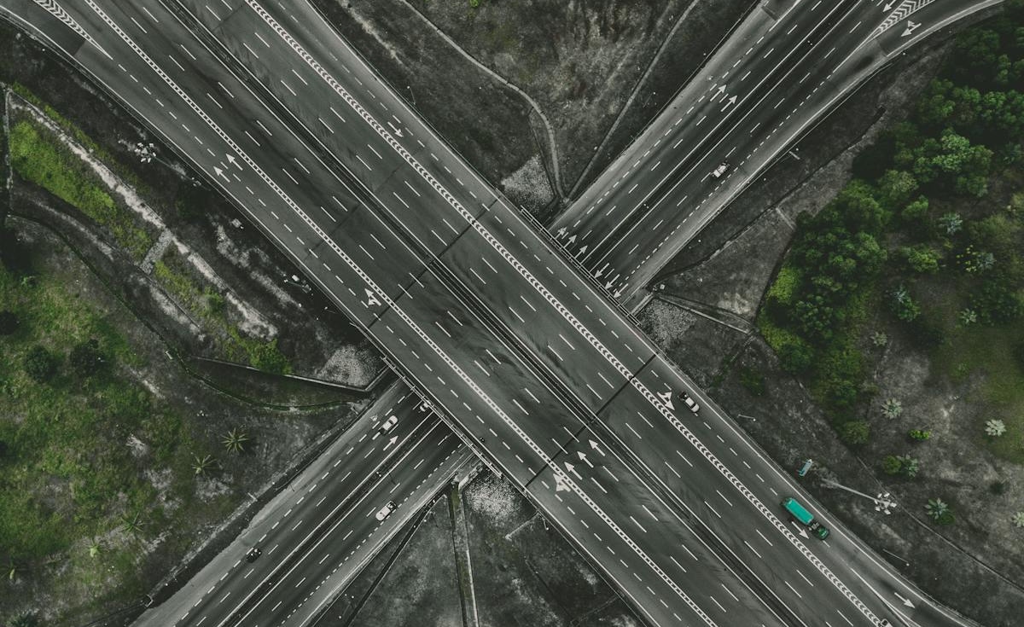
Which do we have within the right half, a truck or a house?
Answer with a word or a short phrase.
truck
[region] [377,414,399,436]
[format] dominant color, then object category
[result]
white truck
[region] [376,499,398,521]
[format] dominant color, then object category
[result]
white truck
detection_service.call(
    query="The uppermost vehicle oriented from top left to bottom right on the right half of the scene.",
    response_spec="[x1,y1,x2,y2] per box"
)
[678,391,701,413]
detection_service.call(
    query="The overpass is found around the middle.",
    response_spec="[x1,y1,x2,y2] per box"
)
[358,190,665,496]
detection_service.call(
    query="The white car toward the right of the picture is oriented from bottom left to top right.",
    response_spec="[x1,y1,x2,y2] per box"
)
[710,161,728,179]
